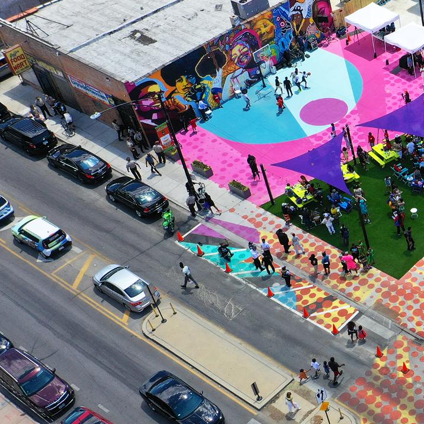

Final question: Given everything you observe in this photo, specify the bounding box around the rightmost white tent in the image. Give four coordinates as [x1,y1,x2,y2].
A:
[383,22,424,74]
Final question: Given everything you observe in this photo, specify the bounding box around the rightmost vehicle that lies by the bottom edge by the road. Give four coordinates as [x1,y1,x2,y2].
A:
[138,375,228,424]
